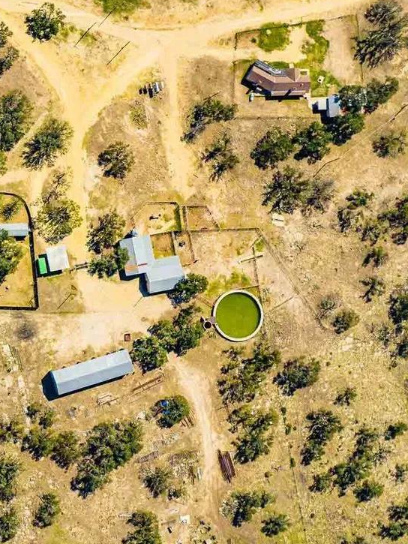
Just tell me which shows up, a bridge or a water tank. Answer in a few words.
water tank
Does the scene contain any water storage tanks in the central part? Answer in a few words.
Yes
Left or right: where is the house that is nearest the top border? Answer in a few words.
right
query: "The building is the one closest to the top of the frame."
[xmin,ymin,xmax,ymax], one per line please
[243,59,312,97]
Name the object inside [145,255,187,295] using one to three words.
barn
